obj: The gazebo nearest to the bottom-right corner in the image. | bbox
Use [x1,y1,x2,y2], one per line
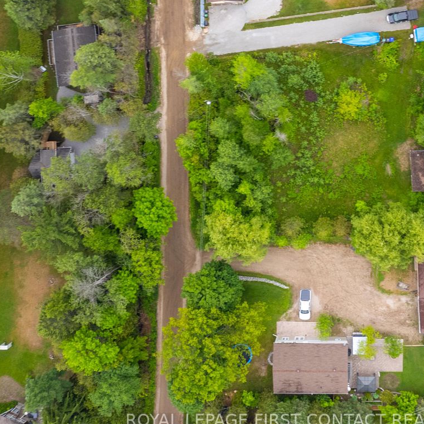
[356,370,377,393]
